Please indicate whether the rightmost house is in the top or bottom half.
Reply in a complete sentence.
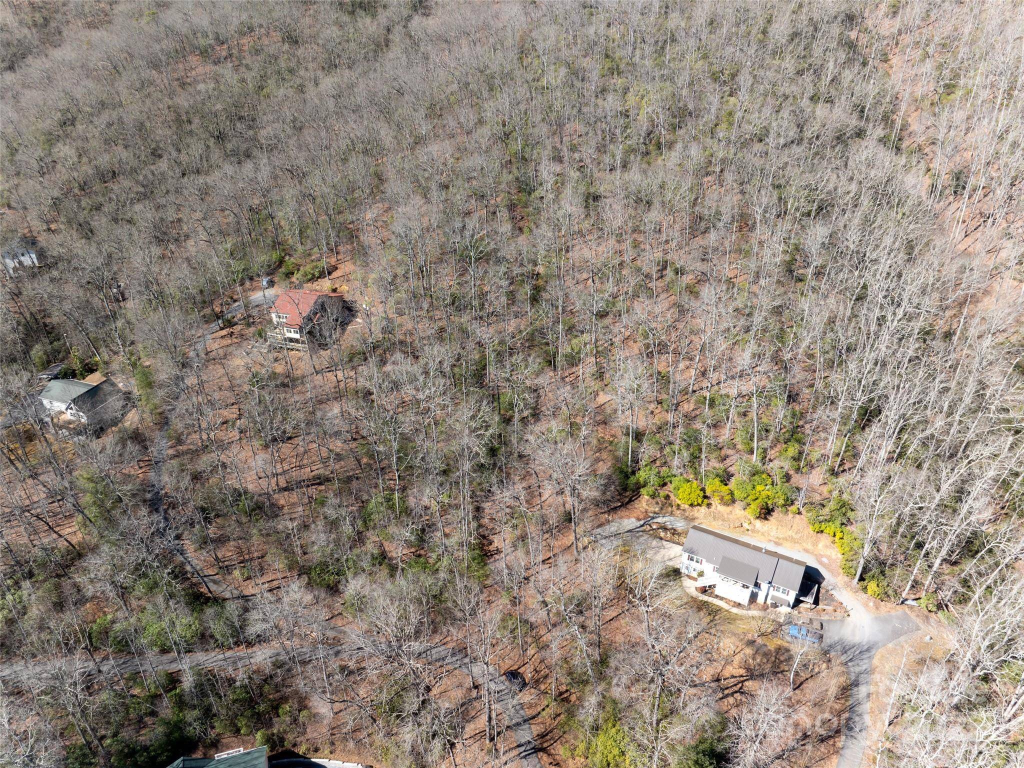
You can find the rightmost house in the bottom half.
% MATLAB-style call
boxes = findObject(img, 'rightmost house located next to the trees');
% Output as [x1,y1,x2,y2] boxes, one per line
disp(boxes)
[681,523,817,615]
